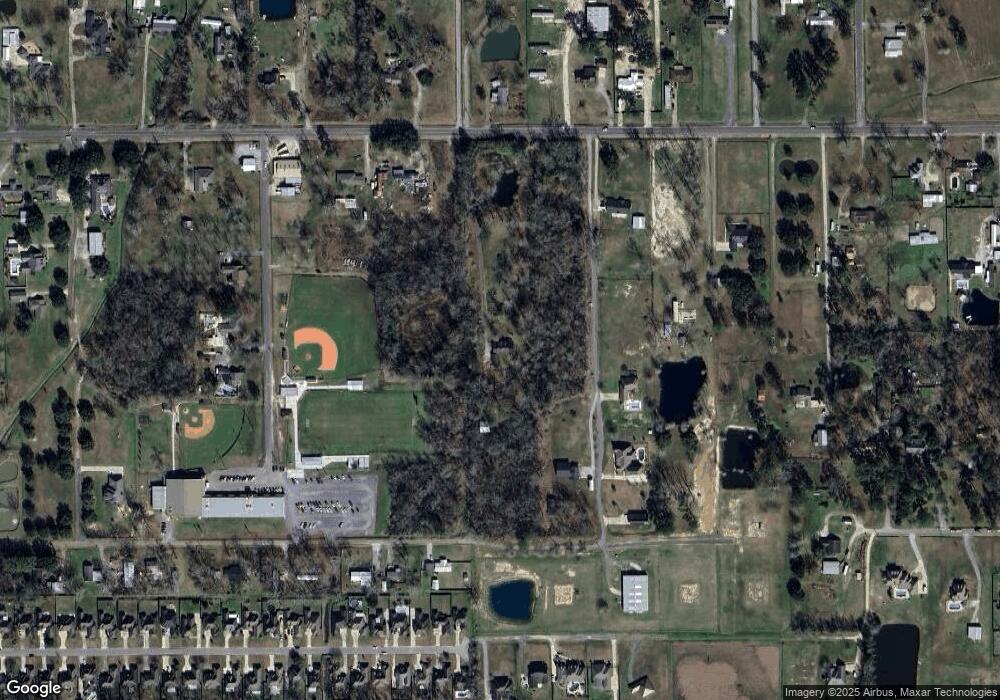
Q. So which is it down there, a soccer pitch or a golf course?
soccer pitch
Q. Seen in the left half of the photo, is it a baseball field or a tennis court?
baseball field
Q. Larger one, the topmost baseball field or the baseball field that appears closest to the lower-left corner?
the topmost baseball field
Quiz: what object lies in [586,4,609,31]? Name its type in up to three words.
building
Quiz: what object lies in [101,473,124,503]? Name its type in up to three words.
house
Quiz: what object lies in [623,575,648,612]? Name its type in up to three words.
barn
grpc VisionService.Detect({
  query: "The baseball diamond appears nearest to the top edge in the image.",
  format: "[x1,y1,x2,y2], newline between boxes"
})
[286,275,381,381]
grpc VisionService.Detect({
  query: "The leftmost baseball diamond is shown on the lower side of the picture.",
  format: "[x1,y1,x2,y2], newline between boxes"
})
[181,404,246,468]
